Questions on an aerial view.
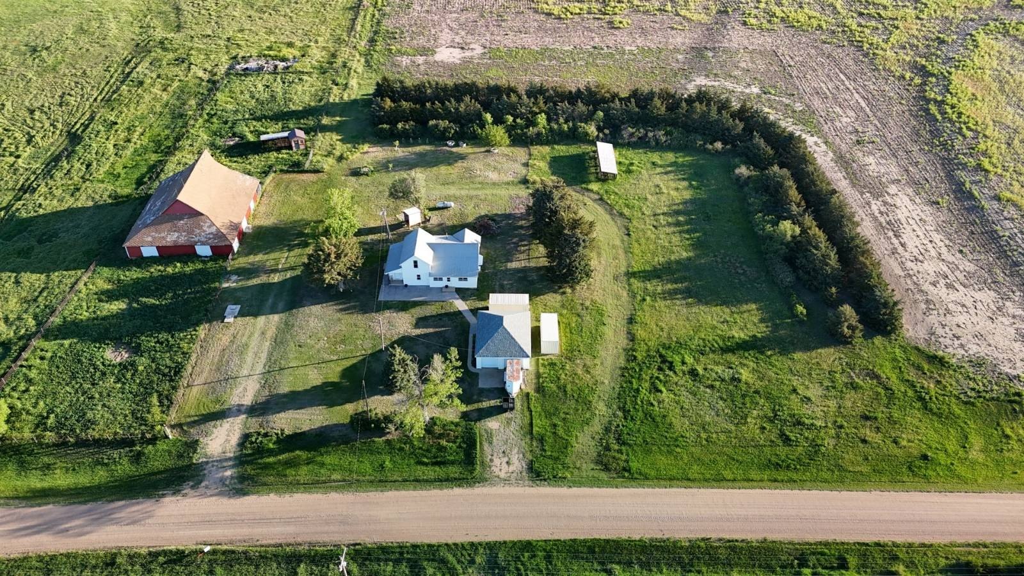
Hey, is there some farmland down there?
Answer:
Yes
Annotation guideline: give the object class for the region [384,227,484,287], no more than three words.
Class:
house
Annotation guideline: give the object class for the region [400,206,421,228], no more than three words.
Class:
shed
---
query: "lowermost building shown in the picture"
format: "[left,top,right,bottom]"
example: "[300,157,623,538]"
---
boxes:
[475,311,531,368]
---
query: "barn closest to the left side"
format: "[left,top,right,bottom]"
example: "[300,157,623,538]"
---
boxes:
[122,151,264,256]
